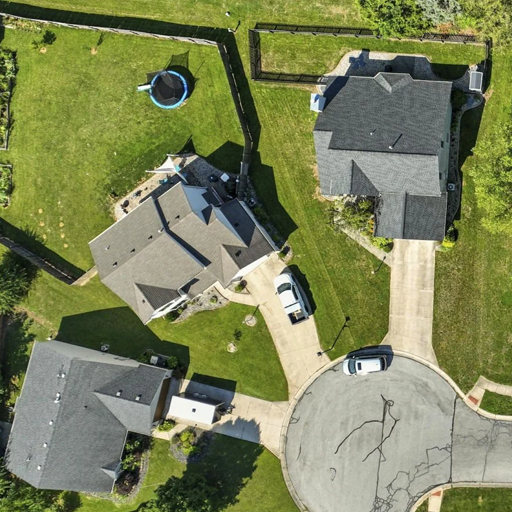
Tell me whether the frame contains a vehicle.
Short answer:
Yes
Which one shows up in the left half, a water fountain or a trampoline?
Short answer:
trampoline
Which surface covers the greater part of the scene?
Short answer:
grass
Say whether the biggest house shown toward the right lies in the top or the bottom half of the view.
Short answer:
top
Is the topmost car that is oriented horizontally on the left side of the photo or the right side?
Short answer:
right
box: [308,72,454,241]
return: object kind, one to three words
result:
house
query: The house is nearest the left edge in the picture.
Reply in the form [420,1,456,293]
[1,339,177,493]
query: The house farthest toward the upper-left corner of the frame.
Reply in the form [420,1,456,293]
[88,180,281,326]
